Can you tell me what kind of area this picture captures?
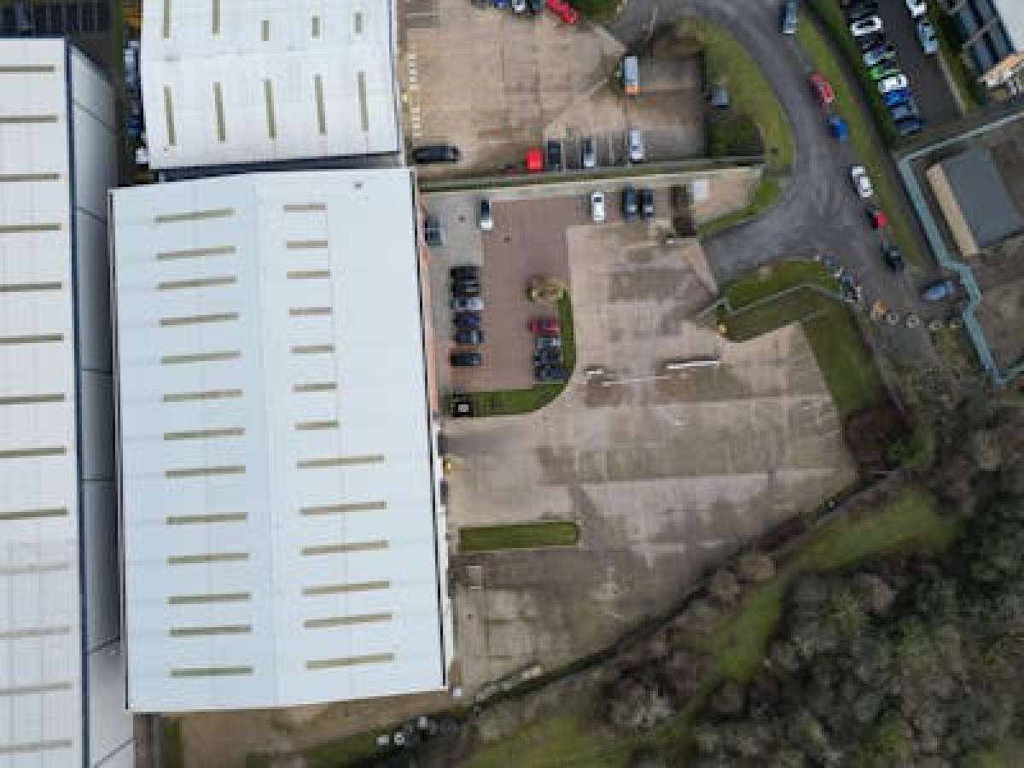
industrial area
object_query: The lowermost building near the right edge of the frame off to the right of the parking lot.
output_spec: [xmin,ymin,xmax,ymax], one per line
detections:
[928,143,1024,253]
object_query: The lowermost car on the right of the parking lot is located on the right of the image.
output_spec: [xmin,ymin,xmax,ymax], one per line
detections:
[920,282,953,300]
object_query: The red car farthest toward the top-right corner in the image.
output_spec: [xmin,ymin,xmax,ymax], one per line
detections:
[807,73,833,104]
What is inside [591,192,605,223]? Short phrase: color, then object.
white car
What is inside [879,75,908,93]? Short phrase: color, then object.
white car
